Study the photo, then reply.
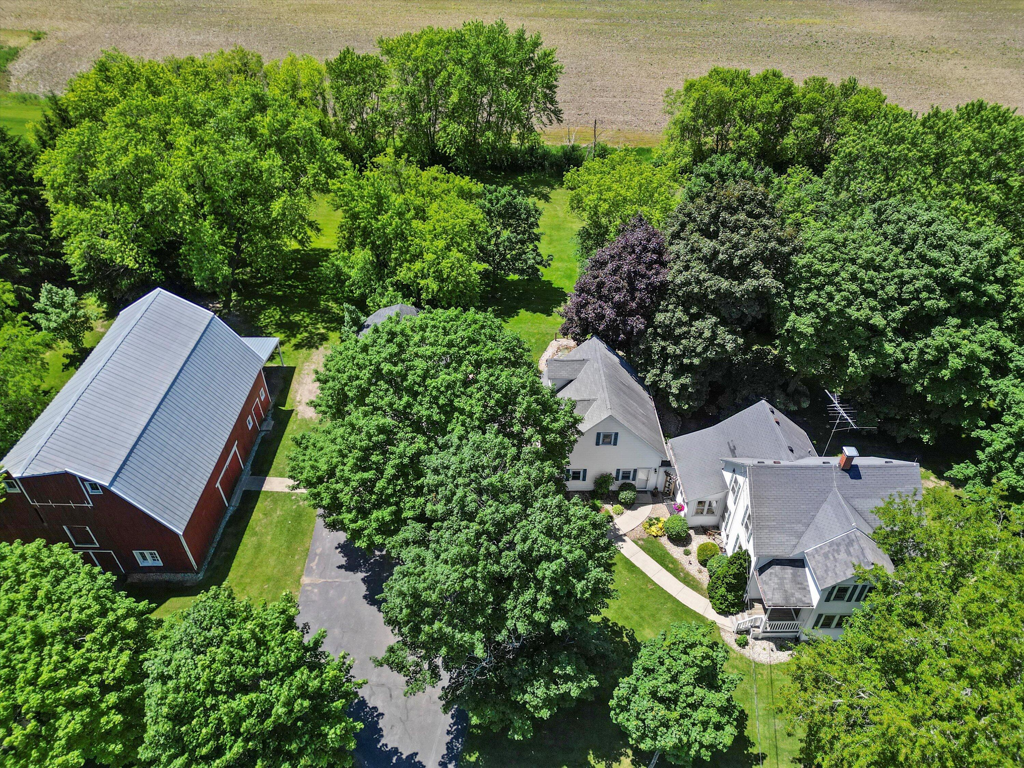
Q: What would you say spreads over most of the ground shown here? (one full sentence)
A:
The bulk of the photo consists of trees.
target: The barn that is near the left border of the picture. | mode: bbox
[0,287,286,574]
